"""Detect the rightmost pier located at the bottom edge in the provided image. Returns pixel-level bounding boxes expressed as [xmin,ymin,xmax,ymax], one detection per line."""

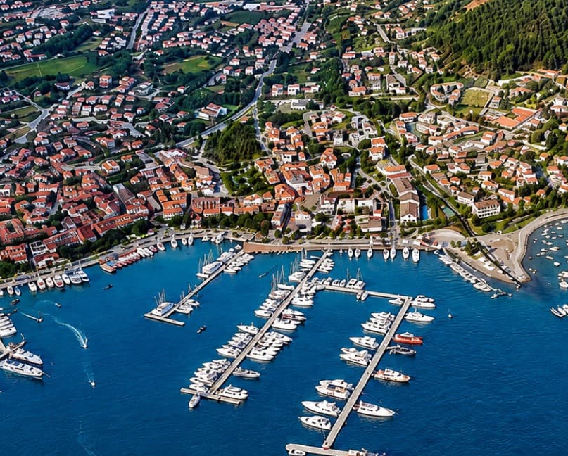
[324,295,415,450]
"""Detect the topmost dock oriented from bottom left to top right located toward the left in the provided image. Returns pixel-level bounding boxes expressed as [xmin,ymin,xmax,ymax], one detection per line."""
[161,250,245,317]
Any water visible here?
Yes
